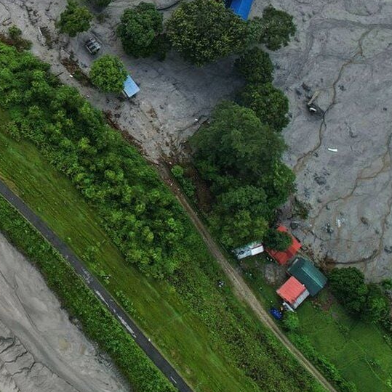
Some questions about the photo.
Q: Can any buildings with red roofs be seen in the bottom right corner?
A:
Yes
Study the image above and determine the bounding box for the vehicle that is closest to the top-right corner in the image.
[307,103,323,117]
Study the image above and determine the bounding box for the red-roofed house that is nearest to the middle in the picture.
[263,224,302,266]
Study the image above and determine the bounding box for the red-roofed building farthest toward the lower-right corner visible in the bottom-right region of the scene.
[272,277,309,309]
